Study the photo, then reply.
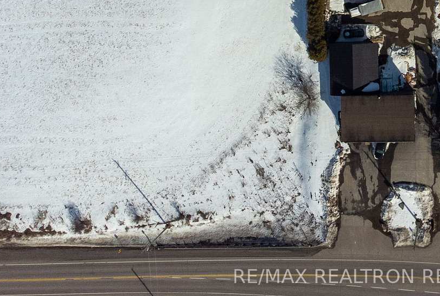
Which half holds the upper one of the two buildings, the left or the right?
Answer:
right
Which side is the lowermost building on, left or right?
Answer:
right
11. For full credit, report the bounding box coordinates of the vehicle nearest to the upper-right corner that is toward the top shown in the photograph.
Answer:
[349,0,384,19]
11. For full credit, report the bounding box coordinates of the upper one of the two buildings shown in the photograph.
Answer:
[330,41,379,96]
